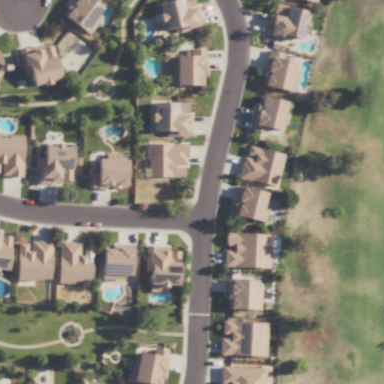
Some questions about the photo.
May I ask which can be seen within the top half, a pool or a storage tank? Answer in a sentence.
What appears within the top half is a pool.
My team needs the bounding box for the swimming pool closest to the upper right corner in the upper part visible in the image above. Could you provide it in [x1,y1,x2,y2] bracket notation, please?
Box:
[296,38,318,54]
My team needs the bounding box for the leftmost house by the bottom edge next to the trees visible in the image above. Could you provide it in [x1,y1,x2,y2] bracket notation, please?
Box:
[136,352,174,384]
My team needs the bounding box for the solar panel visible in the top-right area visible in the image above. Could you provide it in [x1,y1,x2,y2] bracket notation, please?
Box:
[299,10,311,37]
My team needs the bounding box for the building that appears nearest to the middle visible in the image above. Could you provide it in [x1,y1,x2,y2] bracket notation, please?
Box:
[144,143,190,178]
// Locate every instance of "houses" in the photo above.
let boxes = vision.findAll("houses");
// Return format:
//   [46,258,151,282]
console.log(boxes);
[266,52,301,92]
[180,50,209,86]
[144,143,190,178]
[222,366,273,384]
[0,133,26,176]
[229,279,264,310]
[136,352,174,384]
[40,143,76,184]
[162,0,210,33]
[24,43,63,82]
[18,240,54,280]
[60,241,95,283]
[98,152,132,189]
[151,100,195,133]
[239,145,287,188]
[274,2,314,40]
[0,228,14,270]
[104,245,138,280]
[68,0,115,32]
[227,232,273,268]
[239,188,272,222]
[222,320,270,358]
[147,246,184,292]
[256,96,292,131]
